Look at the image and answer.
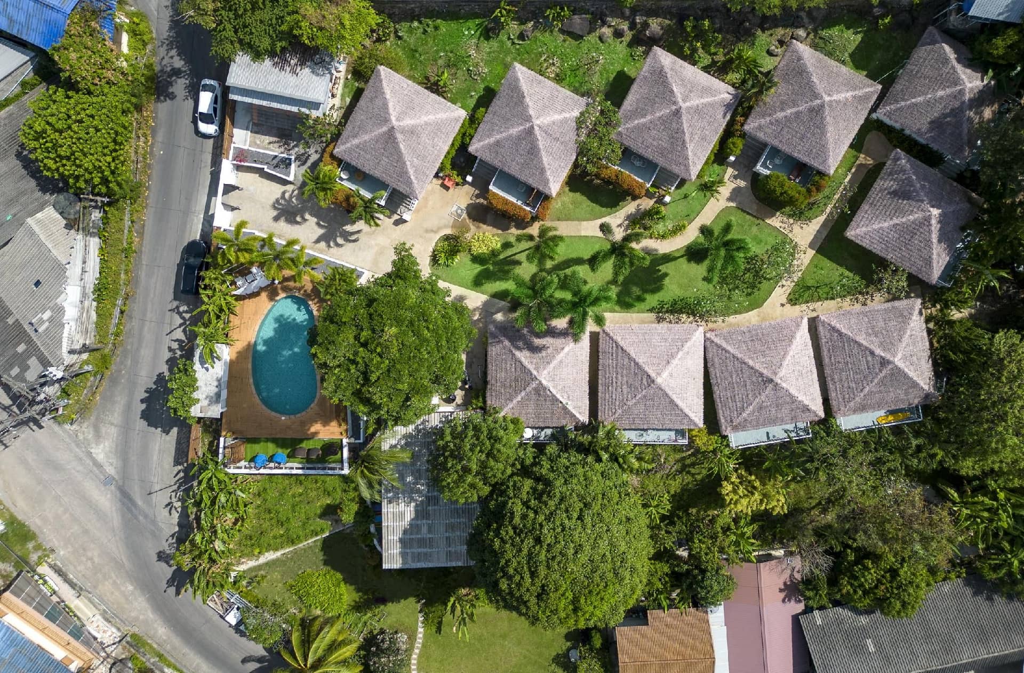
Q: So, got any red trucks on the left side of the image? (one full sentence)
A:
No, on the left side of the image there is no red truck.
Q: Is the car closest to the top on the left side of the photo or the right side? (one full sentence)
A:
The car closest to the top appears in the left half of the scene.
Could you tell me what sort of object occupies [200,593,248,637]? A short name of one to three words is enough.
truck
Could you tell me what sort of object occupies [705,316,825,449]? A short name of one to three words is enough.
house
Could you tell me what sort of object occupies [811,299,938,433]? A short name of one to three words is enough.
house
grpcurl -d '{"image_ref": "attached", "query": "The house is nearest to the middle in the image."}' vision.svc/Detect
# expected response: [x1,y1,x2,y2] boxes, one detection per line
[485,324,591,443]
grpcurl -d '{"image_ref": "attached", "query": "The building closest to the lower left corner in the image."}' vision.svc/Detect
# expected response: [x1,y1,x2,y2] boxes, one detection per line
[0,573,113,673]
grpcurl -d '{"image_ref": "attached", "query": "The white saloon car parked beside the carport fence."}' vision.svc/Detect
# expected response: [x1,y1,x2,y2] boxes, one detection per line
[193,78,226,139]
